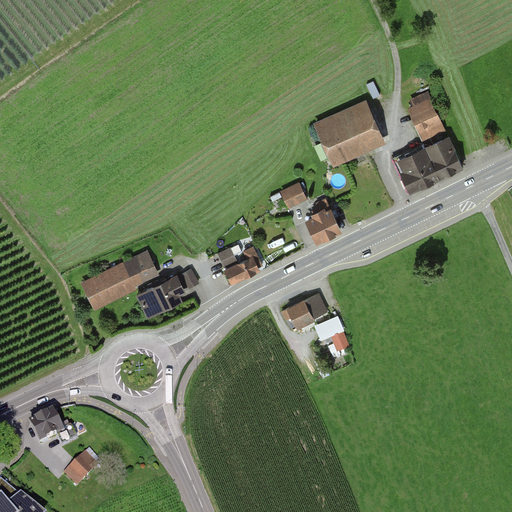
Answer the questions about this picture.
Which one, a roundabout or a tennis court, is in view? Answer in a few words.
roundabout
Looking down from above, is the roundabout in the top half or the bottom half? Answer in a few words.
bottom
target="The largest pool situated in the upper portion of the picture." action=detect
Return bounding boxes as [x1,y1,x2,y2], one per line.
[330,174,346,189]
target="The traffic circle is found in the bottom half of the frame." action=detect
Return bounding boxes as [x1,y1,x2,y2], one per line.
[58,314,220,445]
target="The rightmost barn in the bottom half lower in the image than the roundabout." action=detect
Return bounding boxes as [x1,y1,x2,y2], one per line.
[64,447,98,484]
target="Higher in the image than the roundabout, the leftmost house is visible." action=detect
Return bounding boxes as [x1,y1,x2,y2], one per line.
[82,250,160,308]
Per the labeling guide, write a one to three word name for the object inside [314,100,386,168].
barn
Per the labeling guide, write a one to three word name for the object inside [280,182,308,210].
shed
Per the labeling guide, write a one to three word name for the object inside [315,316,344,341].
building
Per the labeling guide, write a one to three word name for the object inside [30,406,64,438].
house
